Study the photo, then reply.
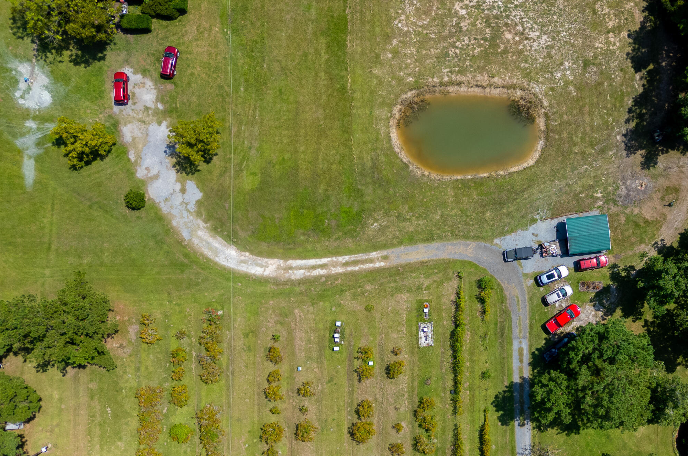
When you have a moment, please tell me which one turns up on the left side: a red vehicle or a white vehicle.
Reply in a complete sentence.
What appears on the left side is a red vehicle.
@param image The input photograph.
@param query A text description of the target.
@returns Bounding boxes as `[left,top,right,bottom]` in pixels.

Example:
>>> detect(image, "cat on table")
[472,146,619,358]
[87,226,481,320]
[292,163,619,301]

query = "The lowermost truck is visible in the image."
[539,332,575,366]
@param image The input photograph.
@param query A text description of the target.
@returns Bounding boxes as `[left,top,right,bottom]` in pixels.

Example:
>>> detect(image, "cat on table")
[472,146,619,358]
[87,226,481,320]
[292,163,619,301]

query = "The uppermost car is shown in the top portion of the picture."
[160,48,181,82]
